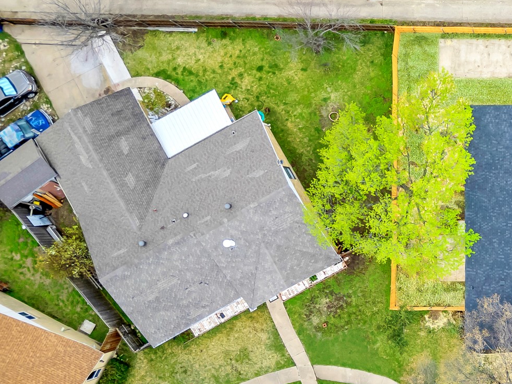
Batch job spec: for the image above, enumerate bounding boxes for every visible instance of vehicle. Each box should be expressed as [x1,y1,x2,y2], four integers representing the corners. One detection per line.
[0,107,55,157]
[0,69,43,118]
